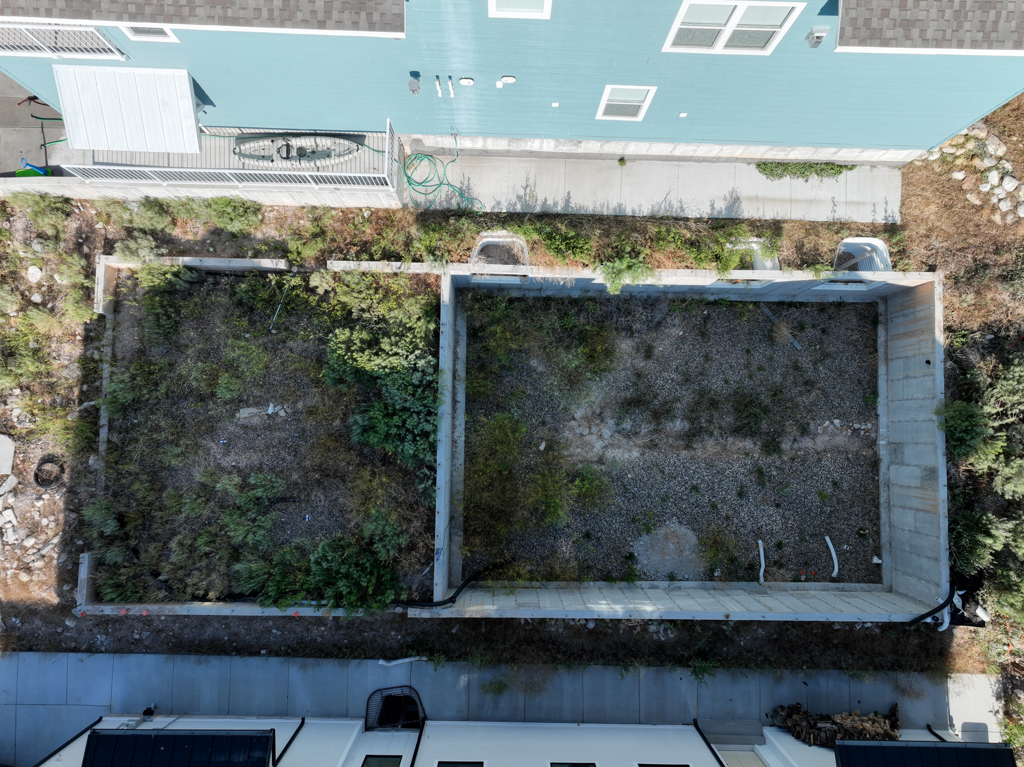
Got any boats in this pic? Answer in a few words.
Yes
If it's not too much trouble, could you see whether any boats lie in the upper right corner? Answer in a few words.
No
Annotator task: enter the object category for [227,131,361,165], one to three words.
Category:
boat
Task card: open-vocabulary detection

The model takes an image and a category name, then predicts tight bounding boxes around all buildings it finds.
[0,0,1024,168]
[32,697,1019,767]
